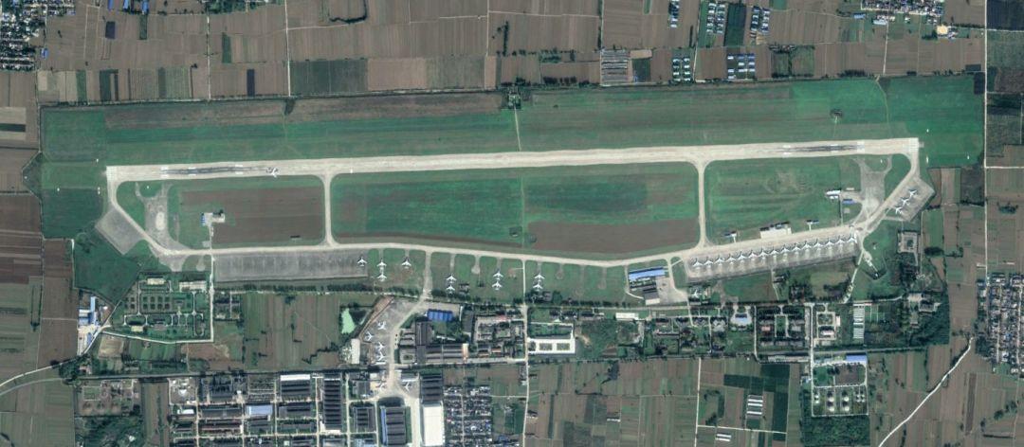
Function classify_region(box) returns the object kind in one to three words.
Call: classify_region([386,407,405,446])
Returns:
hangar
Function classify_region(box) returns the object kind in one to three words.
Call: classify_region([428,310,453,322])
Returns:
hangar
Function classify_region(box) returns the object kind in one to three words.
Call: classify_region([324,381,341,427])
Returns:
building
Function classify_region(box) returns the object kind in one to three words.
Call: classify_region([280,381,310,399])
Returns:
building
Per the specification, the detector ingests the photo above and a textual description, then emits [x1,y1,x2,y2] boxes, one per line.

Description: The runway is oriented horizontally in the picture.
[106,138,919,182]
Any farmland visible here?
Yes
